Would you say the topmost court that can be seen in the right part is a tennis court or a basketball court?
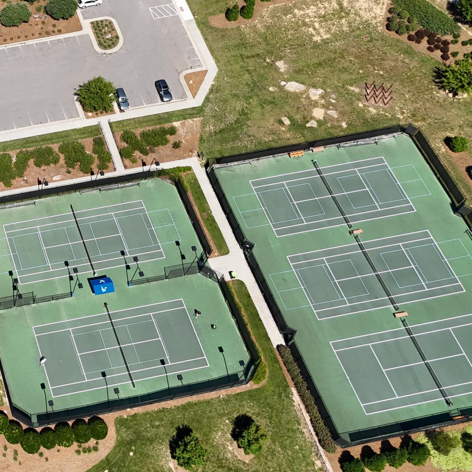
tennis court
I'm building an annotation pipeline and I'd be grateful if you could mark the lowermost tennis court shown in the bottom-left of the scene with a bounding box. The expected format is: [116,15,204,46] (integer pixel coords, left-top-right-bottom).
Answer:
[0,273,251,415]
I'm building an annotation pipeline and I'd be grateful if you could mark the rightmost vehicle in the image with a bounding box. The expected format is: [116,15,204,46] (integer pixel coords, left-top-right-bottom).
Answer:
[155,77,173,102]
